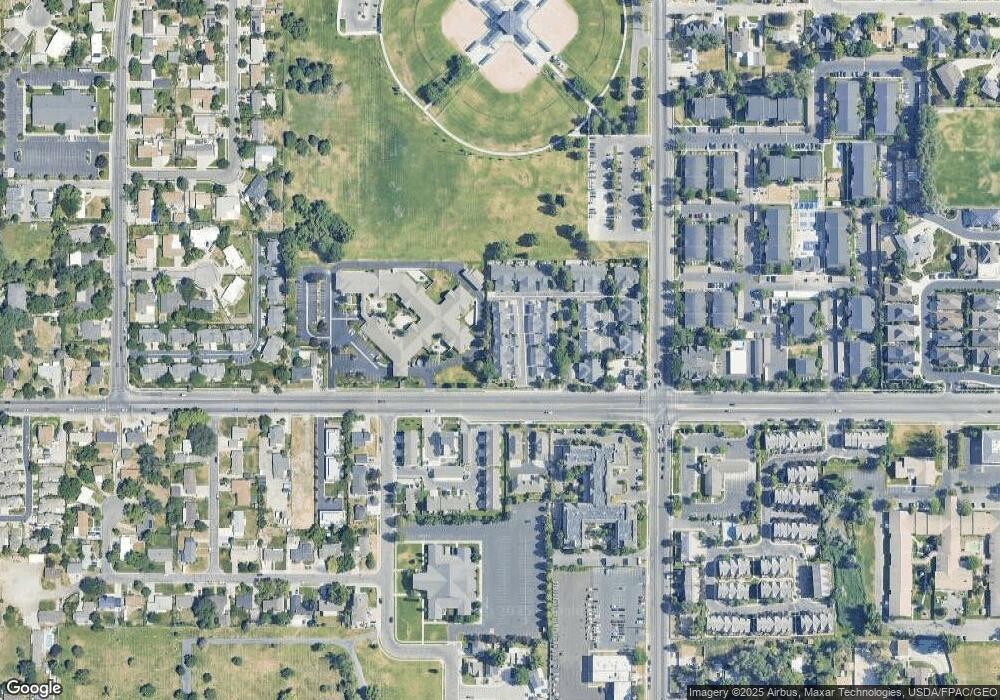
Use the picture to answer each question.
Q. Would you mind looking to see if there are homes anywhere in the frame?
Yes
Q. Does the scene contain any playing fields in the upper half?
Yes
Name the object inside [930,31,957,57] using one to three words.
house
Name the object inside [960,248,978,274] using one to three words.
house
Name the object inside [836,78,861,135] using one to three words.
building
